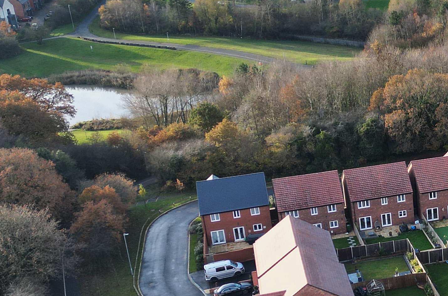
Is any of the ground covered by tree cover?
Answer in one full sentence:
Yes, the picture does contain tree cover.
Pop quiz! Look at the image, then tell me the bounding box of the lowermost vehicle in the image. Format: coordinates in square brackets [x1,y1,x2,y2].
[212,280,254,296]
